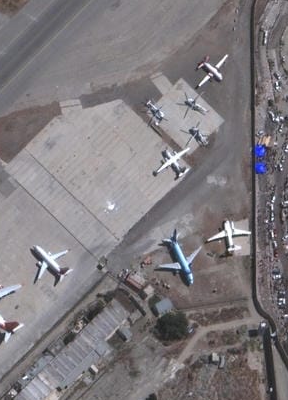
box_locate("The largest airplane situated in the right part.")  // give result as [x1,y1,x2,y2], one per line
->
[155,232,200,287]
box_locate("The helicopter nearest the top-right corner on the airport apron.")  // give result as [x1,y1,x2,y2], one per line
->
[179,93,209,117]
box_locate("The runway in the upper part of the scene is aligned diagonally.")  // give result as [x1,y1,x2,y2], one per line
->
[0,0,90,90]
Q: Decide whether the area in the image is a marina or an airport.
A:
airport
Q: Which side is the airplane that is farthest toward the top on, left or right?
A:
right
